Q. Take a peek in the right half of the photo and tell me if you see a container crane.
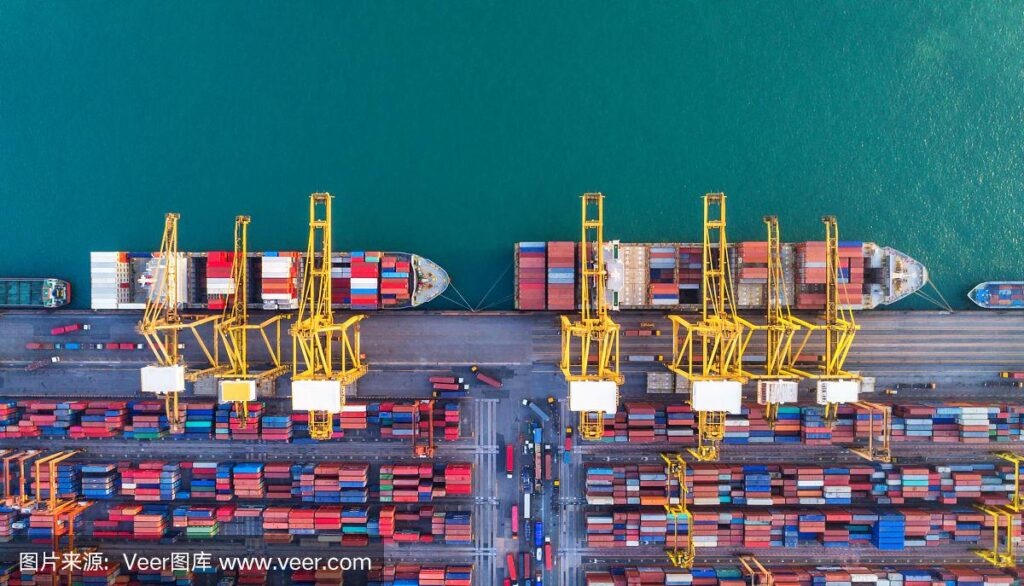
Yes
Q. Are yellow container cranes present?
Yes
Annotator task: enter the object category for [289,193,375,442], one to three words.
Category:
container crane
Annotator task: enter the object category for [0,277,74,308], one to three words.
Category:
ship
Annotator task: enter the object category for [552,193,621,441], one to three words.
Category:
container crane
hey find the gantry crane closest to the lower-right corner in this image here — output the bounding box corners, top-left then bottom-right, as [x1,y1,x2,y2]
[965,500,1014,570]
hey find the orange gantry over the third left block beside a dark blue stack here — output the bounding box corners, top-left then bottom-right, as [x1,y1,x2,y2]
[53,501,98,570]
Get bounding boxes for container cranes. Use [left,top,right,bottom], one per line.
[659,193,745,441]
[53,501,98,570]
[4,452,51,518]
[779,214,862,428]
[289,193,375,442]
[986,451,1024,516]
[35,452,81,518]
[414,399,439,463]
[965,500,1014,570]
[657,451,686,517]
[552,193,621,441]
[663,503,692,569]
[213,214,296,422]
[725,214,802,428]
[689,400,720,462]
[140,212,234,429]
[849,399,890,462]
